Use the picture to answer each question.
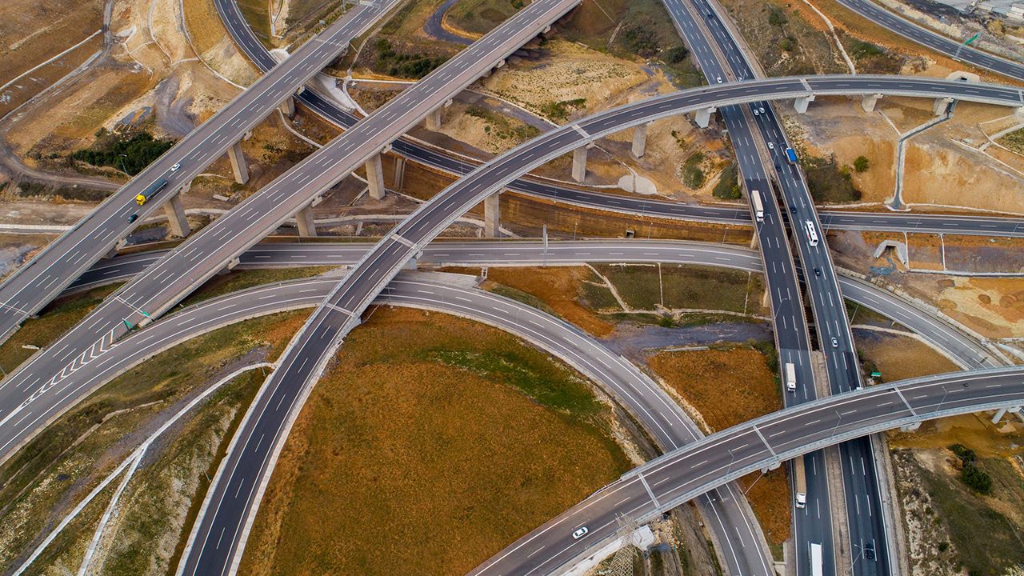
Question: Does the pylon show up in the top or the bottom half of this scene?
bottom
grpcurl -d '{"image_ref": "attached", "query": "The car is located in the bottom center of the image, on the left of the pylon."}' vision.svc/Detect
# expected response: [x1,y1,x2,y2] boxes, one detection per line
[573,527,589,539]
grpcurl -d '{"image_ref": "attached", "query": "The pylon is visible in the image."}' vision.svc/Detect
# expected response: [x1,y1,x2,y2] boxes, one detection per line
[606,523,650,576]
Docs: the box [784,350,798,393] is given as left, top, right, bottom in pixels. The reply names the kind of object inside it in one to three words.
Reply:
vehicle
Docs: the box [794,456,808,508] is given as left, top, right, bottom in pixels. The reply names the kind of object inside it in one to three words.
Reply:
vehicle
